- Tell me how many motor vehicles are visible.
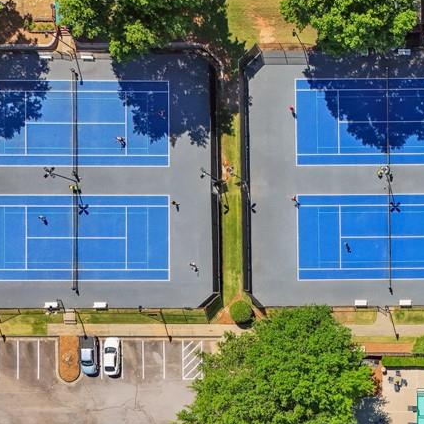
2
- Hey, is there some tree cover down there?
Yes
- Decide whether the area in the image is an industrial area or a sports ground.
sports ground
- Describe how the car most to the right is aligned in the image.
vertically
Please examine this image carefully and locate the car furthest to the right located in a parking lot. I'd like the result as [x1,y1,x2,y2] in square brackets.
[102,337,122,376]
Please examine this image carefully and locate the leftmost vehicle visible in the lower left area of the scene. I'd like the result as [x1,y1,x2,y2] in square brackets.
[77,335,99,376]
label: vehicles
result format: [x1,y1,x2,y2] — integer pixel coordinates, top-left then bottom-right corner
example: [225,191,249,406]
[102,337,122,376]
[77,335,99,376]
